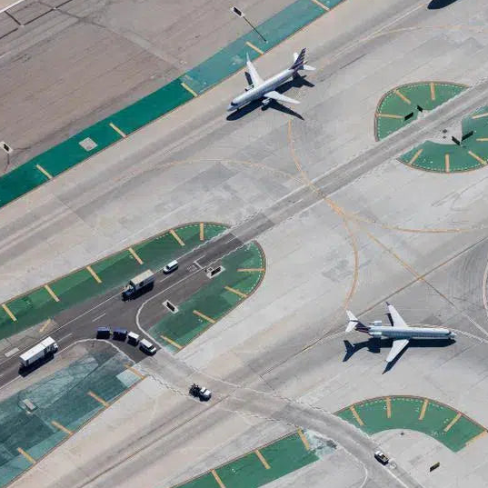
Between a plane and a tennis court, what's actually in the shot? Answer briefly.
plane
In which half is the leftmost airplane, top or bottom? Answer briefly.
top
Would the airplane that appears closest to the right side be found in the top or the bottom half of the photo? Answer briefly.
bottom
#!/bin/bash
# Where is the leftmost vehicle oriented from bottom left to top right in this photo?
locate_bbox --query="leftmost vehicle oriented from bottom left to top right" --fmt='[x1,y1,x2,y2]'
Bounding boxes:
[20,338,60,367]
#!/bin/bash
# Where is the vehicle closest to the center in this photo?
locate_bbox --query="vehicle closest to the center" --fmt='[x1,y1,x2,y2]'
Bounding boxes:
[162,258,180,273]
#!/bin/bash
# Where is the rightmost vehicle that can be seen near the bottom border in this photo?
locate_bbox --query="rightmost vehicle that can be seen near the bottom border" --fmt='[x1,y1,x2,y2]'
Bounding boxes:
[373,451,391,465]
